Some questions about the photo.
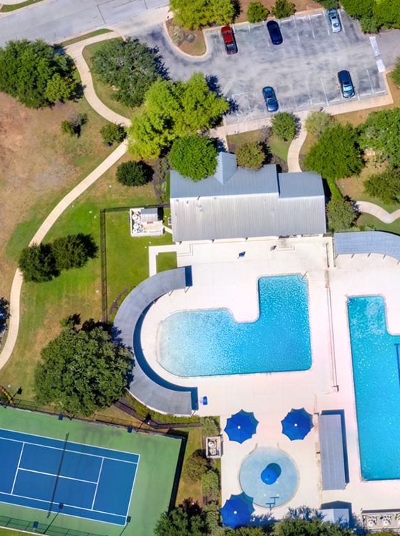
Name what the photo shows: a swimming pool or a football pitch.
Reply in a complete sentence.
I can see a swimming pool in this picture.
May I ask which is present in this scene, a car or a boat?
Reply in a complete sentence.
It is a car that can be seen here.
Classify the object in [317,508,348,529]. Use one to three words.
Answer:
shed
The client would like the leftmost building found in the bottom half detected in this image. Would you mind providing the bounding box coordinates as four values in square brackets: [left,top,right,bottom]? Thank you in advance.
[114,267,191,416]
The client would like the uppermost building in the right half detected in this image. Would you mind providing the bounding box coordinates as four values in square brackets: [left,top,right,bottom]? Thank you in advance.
[170,152,327,242]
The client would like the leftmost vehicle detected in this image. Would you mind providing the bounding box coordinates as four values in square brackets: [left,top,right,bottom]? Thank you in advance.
[221,25,238,56]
